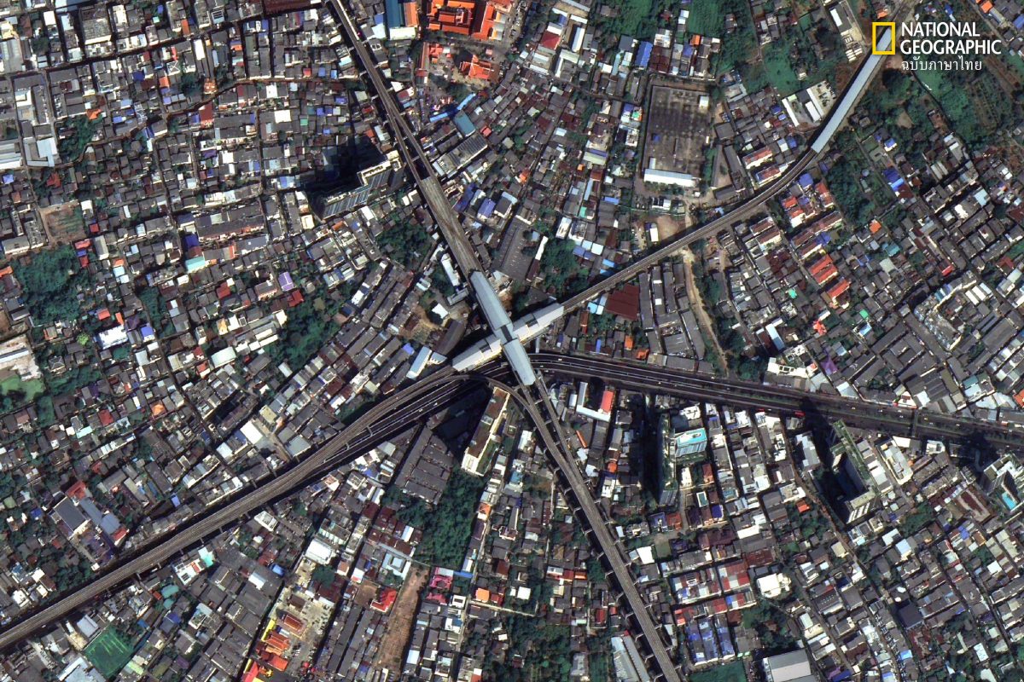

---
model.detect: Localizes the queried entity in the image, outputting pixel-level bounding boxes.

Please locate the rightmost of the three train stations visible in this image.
[811,29,895,151]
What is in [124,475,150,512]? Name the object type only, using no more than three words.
house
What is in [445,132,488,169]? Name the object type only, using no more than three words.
building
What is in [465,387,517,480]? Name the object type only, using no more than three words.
building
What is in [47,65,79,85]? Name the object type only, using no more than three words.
house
